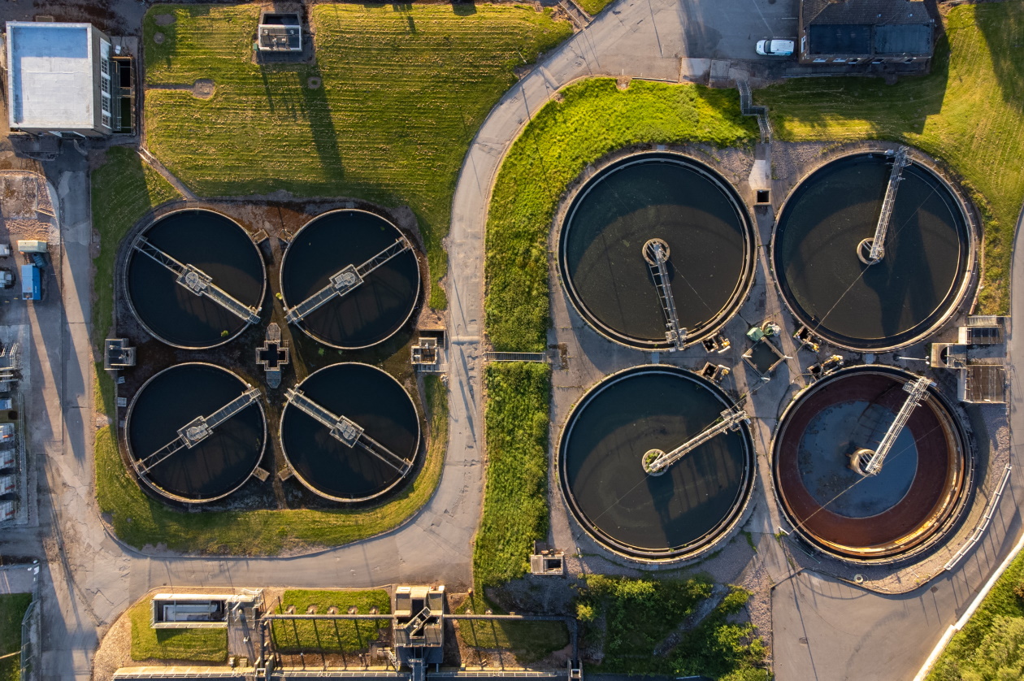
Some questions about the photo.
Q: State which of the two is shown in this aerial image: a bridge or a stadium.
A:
bridge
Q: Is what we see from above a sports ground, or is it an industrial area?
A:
industrial area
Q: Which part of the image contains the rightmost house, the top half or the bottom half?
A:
top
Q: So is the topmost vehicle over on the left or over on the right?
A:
right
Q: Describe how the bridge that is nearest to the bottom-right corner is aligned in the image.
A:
at an angle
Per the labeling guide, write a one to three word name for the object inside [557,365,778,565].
storage tank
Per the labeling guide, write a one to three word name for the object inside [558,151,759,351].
storage tank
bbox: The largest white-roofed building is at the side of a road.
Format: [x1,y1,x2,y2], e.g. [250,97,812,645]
[7,22,113,145]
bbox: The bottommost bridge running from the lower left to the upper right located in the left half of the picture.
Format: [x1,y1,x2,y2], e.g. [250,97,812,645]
[128,387,266,475]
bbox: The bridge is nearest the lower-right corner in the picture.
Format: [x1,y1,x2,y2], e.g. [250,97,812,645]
[862,375,939,480]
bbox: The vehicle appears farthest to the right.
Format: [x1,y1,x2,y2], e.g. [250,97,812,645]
[754,38,797,59]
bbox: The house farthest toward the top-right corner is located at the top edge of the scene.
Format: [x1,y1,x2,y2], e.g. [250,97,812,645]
[800,0,933,64]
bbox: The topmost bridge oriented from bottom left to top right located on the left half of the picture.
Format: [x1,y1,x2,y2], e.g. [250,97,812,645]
[281,233,411,328]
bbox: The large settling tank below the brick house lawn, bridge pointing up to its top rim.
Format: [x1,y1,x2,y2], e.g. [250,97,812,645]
[772,144,977,352]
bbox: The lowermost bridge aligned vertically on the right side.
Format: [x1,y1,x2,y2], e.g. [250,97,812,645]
[648,239,686,351]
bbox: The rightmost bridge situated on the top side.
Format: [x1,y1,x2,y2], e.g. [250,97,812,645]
[867,144,918,262]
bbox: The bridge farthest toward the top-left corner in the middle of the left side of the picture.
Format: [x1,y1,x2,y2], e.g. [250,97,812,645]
[128,236,265,324]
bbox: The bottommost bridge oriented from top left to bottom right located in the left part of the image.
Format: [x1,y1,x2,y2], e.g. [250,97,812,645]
[281,386,412,477]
